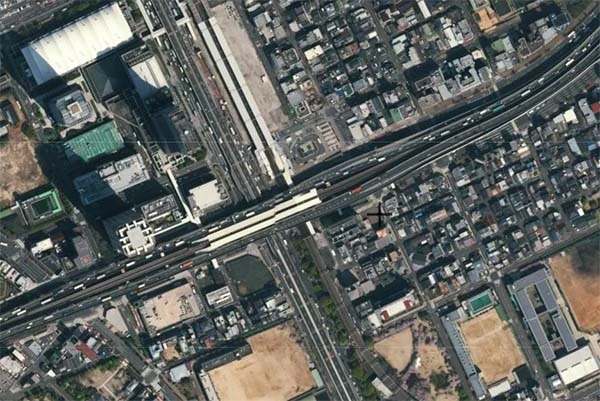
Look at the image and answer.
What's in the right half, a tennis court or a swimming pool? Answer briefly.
swimming pool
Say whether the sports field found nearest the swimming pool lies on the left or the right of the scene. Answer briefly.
right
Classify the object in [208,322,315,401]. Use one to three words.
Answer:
sports field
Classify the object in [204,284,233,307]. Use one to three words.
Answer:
building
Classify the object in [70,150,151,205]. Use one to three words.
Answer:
building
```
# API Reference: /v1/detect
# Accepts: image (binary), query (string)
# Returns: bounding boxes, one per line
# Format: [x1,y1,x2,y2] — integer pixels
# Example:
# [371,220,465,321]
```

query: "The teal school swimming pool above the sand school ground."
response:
[465,290,496,316]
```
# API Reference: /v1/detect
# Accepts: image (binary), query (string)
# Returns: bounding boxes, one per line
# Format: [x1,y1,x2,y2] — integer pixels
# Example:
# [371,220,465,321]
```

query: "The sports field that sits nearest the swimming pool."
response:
[459,309,526,384]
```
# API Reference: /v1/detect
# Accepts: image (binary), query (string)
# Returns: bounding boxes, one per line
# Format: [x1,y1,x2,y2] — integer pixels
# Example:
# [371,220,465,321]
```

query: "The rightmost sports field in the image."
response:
[551,241,600,333]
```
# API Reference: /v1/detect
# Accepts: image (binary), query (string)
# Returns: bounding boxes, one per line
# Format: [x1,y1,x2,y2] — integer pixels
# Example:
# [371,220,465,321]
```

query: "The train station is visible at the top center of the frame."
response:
[199,17,295,186]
